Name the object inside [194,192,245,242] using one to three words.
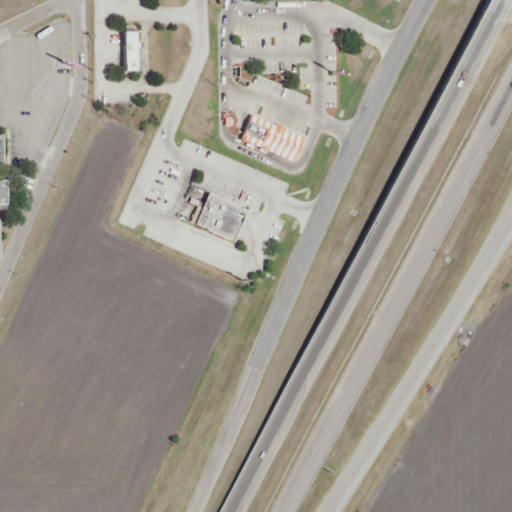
building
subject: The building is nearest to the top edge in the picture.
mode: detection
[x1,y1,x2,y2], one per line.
[123,25,142,71]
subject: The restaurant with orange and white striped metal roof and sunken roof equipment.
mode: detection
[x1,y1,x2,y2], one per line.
[240,114,304,161]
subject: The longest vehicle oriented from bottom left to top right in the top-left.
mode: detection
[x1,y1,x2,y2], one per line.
[36,24,56,38]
